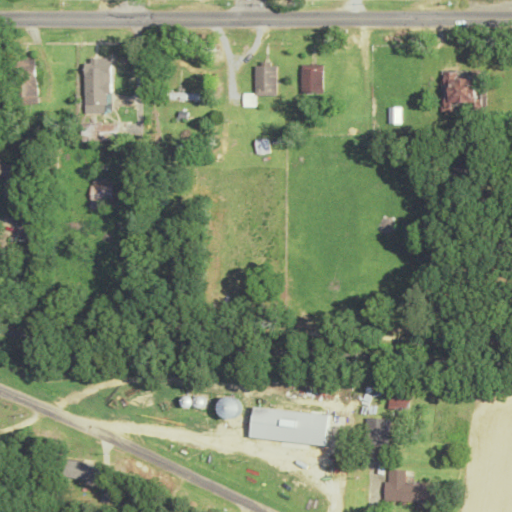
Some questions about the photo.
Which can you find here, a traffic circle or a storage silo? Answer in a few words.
storage silo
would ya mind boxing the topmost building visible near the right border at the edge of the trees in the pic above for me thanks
[446,68,490,111]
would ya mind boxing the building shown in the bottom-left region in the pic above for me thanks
[64,457,92,479]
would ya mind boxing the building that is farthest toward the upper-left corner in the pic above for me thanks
[18,57,42,104]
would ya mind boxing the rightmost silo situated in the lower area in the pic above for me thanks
[216,394,245,422]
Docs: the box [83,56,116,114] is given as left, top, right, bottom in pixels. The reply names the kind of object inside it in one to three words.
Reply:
house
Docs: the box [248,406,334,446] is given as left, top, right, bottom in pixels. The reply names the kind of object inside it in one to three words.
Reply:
barn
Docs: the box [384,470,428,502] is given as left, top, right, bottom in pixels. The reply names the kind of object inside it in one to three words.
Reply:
house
